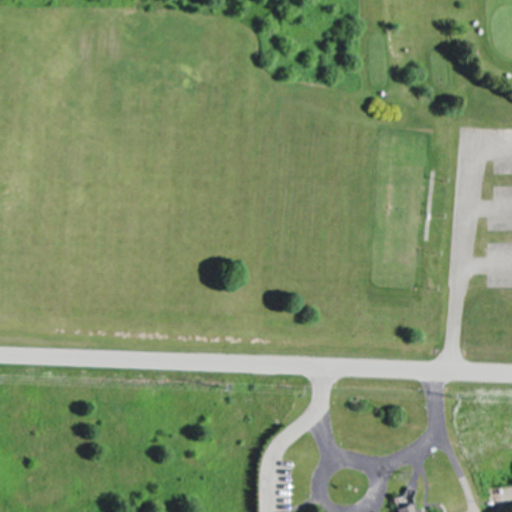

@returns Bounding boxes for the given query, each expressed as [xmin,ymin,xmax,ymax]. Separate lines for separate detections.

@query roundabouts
[318,458,380,512]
